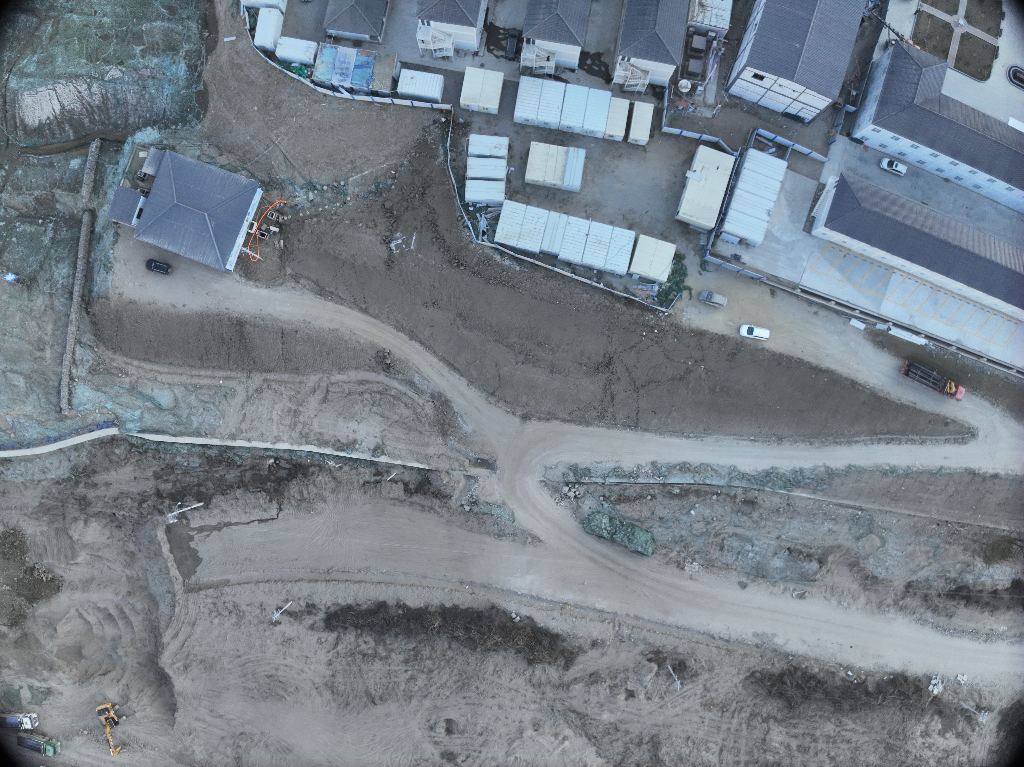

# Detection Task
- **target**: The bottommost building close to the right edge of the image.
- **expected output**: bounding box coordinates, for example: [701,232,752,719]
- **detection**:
[804,173,1024,321]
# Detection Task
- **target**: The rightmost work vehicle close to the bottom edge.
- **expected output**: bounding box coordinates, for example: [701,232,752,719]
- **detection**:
[96,700,130,754]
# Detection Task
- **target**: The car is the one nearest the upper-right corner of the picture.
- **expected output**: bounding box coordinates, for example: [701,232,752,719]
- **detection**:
[877,158,908,178]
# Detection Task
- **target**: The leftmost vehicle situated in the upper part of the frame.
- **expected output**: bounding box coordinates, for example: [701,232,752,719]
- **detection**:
[145,258,174,276]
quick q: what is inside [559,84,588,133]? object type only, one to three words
building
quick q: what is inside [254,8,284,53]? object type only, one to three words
building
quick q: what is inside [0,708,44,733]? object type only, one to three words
truck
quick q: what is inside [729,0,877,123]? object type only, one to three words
warehouse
